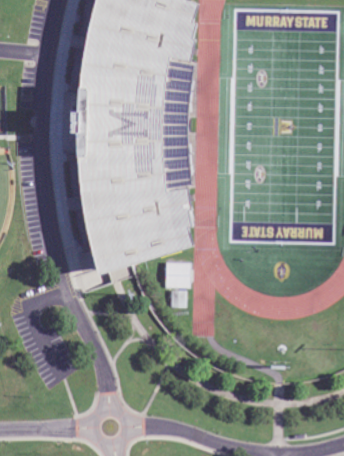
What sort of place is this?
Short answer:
sports ground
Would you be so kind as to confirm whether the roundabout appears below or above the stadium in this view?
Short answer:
below it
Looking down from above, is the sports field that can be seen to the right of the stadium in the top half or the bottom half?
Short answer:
top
